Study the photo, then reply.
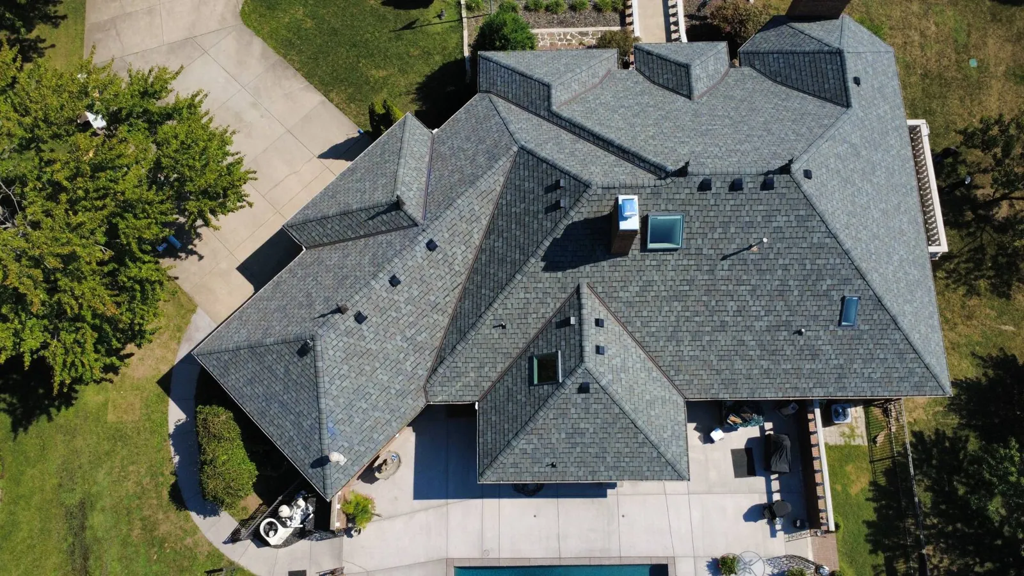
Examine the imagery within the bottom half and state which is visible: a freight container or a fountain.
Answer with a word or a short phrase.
fountain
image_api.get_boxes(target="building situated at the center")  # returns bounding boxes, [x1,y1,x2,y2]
[193,0,956,503]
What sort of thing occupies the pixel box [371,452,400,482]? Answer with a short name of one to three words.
fountain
